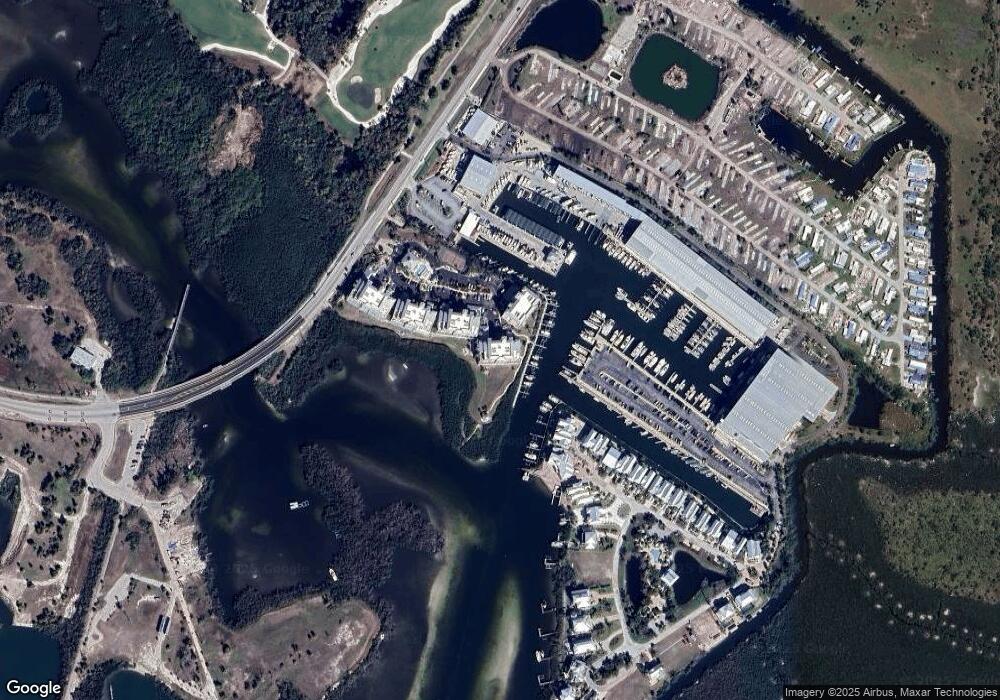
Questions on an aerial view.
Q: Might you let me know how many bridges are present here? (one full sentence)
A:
My tally gives 1 bridge in this photo.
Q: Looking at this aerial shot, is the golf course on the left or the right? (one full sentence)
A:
It is on the left.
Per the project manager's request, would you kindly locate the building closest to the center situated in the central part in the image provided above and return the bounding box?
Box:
[479,335,524,366]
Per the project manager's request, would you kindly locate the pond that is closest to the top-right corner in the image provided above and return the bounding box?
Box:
[632,34,720,122]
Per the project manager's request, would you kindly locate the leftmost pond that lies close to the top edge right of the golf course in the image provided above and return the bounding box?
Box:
[517,0,603,61]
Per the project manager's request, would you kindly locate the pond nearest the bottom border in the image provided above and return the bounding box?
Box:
[104,670,174,700]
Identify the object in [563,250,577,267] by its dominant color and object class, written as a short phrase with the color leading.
white boat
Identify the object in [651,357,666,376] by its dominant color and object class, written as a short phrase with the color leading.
white boat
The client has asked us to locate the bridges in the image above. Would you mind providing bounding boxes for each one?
[115,318,301,418]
